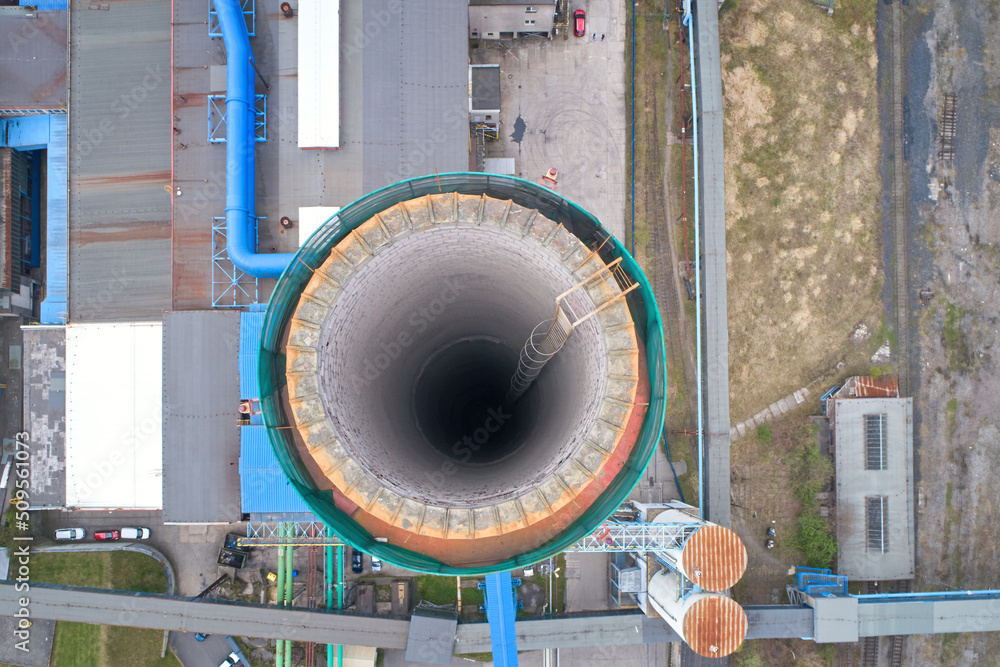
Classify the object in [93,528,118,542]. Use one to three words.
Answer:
vehicle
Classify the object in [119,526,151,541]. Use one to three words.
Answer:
vehicle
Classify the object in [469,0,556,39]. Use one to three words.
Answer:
building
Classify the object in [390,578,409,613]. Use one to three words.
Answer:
shed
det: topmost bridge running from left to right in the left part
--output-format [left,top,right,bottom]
[237,521,345,547]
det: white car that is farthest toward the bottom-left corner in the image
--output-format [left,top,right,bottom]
[54,527,86,542]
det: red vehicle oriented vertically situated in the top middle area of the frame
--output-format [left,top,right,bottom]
[573,9,587,37]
